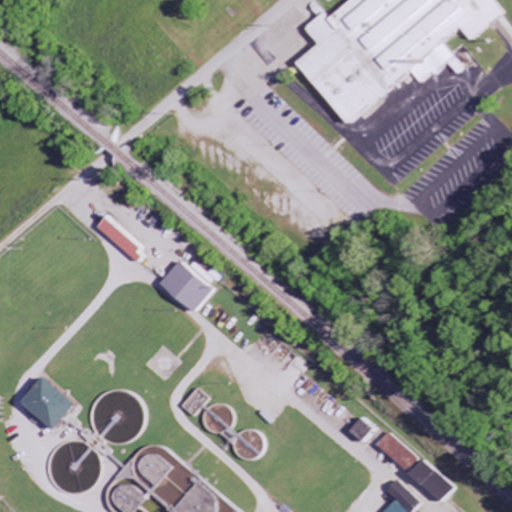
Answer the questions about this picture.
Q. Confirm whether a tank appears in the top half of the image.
No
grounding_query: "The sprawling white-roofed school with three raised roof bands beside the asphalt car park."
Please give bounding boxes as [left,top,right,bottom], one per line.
[295,0,506,124]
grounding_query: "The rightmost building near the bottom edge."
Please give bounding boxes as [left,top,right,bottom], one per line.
[406,462,452,502]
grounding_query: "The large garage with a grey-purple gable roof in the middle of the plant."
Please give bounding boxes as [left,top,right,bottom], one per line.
[161,264,214,310]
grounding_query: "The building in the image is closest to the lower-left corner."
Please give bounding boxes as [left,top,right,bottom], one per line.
[20,378,75,428]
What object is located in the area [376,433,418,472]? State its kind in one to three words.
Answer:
building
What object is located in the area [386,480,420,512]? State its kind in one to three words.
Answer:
shed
